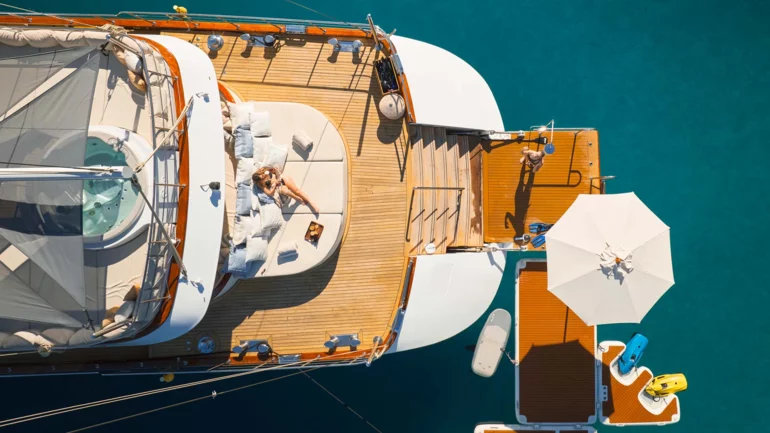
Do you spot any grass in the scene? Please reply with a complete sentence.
No, there's no grass in this view.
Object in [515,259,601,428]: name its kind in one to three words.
pier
